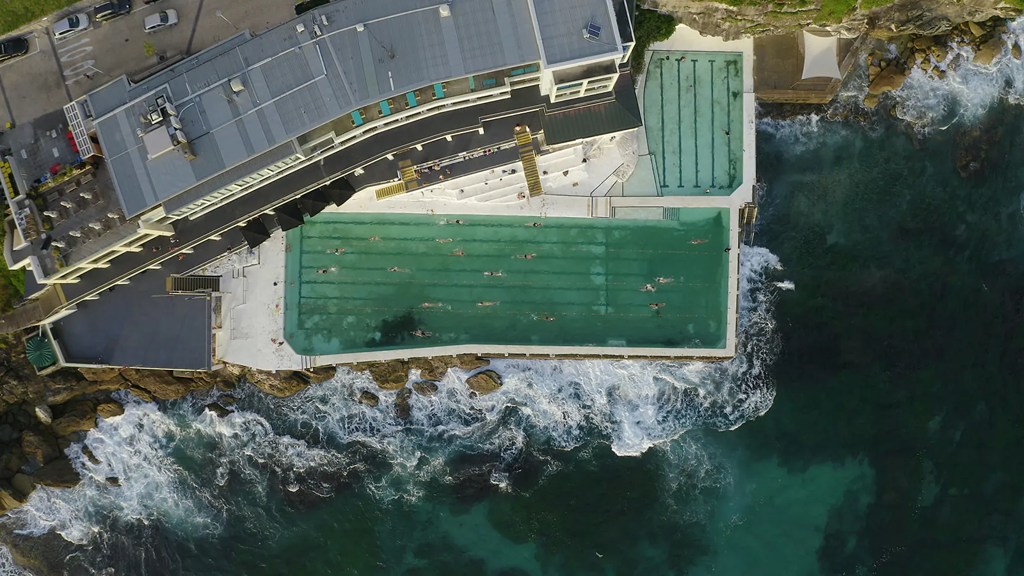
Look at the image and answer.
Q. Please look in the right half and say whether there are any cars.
No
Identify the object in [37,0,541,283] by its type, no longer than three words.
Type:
building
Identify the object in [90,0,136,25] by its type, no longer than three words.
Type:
car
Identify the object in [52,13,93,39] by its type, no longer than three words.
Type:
car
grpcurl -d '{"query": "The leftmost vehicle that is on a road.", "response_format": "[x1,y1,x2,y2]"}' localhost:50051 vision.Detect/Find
[0,37,30,61]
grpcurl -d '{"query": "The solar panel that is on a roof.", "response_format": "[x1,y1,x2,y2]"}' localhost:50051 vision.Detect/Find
[581,21,601,38]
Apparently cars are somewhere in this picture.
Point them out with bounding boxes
[52,13,93,39]
[90,0,136,25]
[141,0,177,10]
[141,9,182,33]
[0,37,30,61]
